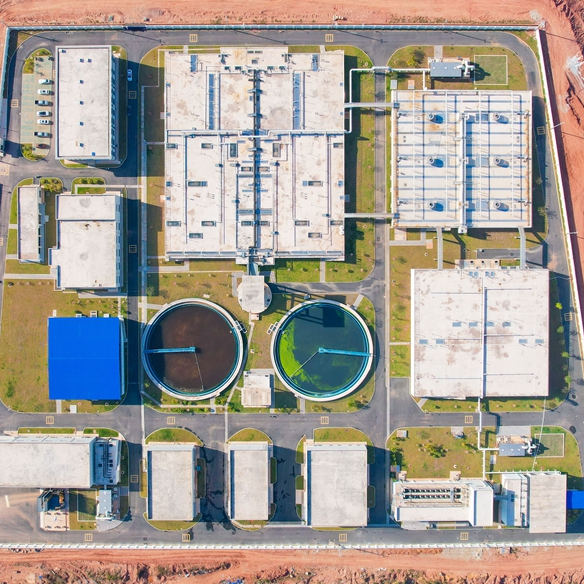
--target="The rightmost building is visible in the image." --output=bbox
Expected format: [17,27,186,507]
[522,469,567,533]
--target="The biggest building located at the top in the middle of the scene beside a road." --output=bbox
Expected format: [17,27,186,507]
[164,47,345,265]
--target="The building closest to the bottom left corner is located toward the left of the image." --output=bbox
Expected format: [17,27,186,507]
[0,434,124,487]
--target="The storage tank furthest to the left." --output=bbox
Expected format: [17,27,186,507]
[142,298,244,400]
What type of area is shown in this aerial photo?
industrial area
